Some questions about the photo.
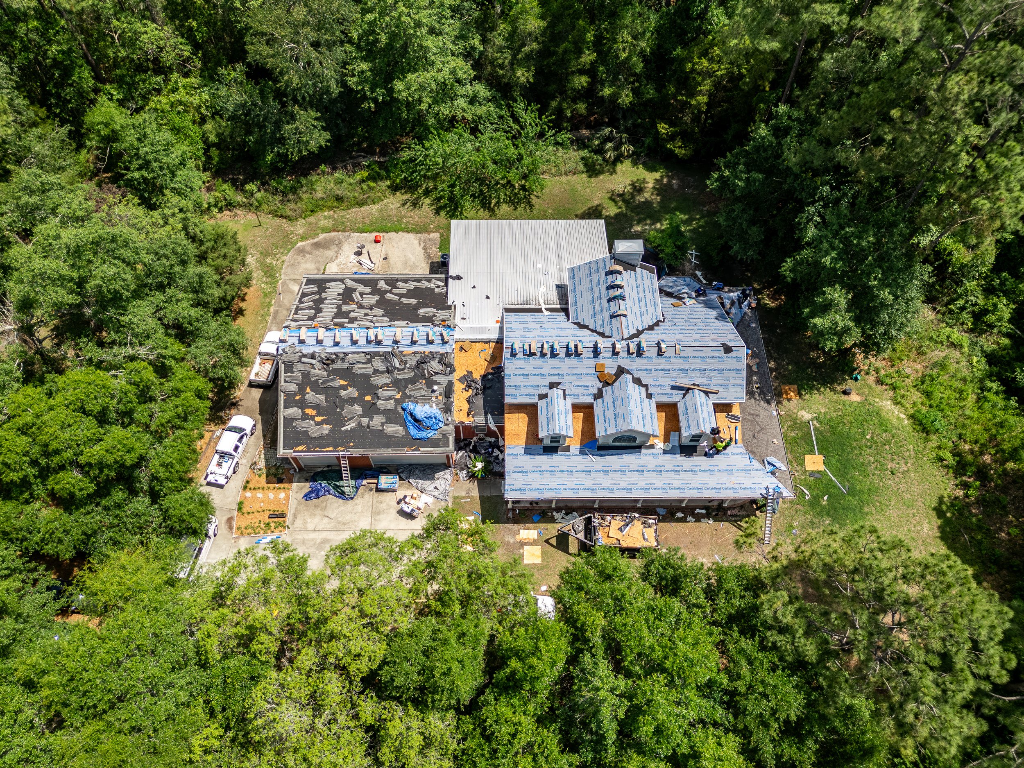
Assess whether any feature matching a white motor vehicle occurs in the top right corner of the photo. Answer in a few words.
No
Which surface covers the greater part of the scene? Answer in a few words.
trees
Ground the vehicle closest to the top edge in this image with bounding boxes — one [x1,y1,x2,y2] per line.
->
[250,333,281,390]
